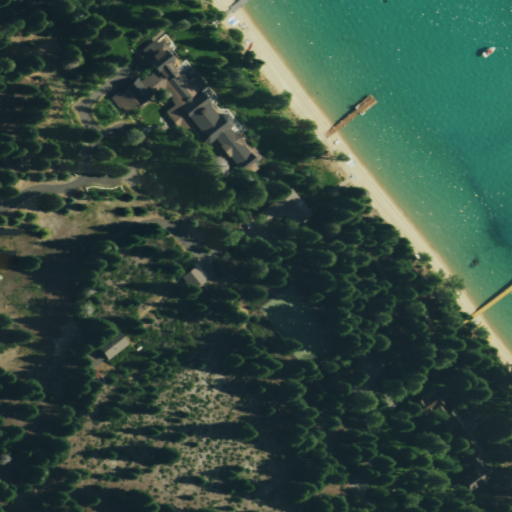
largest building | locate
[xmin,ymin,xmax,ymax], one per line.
[130,34,263,172]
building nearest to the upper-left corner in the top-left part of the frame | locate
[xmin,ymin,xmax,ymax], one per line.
[112,92,140,113]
